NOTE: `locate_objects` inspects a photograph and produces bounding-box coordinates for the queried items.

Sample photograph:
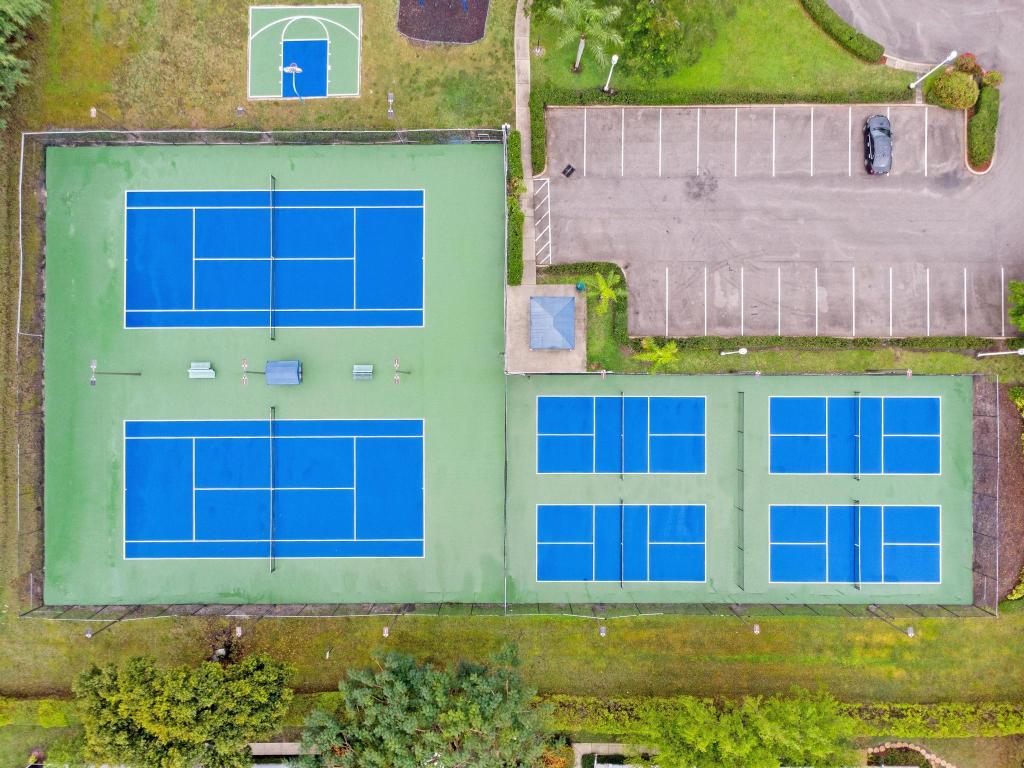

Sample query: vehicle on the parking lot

[861,114,894,177]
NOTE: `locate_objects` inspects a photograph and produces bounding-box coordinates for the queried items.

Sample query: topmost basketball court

[248,4,362,100]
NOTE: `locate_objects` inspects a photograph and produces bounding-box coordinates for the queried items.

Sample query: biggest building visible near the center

[529,297,575,350]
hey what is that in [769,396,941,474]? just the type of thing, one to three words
sports court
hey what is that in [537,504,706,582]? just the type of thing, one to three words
sports court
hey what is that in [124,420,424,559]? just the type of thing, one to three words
tennis court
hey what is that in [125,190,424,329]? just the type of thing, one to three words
tennis court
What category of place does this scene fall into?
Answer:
sports ground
